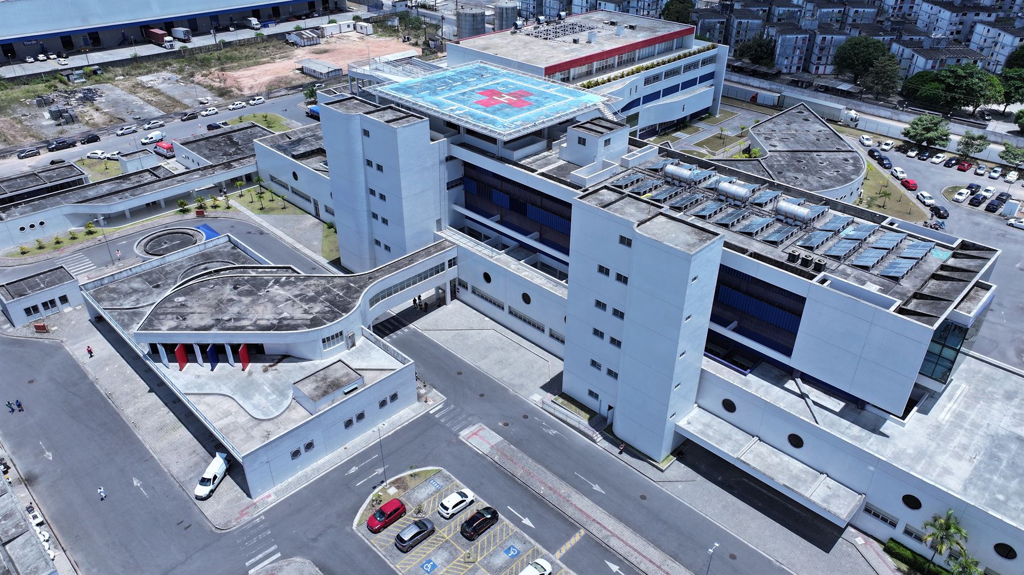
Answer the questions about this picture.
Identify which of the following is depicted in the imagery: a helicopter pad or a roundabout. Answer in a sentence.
Of the two, only a helicopter pad appears.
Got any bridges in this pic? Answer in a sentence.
Yes, I can see a bridge in this picture.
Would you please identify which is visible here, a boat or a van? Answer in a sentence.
Of the two, only a van appears.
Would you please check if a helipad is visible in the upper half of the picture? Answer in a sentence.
Yes, a helipad can be seen in the upper half of the picture.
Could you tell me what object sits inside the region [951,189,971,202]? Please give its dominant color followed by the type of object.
white vehicle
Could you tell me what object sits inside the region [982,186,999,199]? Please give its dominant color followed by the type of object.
white vehicle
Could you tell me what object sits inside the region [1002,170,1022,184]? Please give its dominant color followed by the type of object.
white car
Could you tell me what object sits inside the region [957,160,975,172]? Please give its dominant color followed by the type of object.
red vehicle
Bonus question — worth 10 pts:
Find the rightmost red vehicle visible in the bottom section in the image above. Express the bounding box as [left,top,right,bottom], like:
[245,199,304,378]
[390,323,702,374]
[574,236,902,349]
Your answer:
[365,497,408,535]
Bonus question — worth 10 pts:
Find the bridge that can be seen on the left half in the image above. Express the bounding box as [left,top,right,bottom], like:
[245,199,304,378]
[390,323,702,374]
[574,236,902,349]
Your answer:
[361,256,457,331]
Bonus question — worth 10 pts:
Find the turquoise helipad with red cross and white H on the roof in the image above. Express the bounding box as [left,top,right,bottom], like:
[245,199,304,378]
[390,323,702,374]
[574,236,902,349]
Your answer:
[363,59,642,157]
